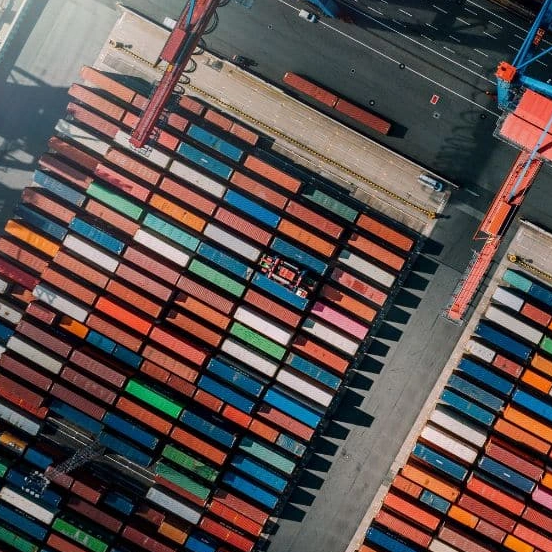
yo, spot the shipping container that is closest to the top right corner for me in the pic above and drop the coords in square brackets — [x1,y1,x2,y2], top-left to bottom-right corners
[335,98,393,137]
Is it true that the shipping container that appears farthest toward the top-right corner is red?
Yes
